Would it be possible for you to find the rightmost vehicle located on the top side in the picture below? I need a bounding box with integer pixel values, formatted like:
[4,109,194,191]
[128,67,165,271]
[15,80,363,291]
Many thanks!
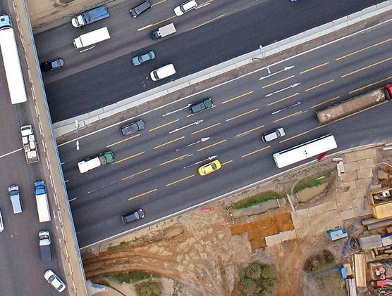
[314,84,392,124]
